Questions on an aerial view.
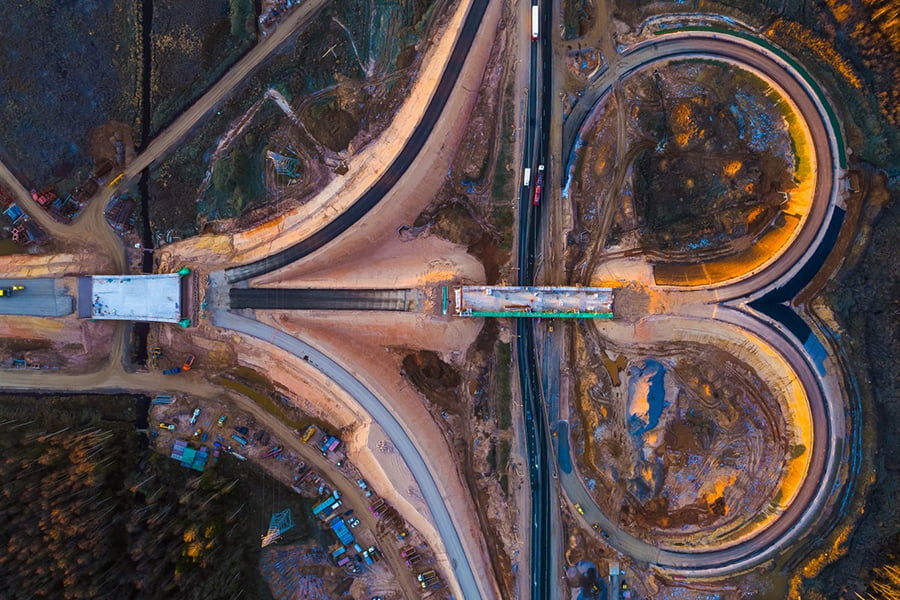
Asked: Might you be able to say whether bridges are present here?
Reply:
Yes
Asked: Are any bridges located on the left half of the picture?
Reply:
Yes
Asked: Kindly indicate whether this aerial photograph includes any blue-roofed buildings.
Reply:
Yes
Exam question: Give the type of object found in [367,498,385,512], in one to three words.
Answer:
vehicle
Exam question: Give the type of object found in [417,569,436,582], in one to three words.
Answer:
vehicle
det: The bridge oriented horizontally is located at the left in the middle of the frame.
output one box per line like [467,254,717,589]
[78,273,186,325]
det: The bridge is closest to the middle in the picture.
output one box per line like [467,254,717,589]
[452,287,613,319]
